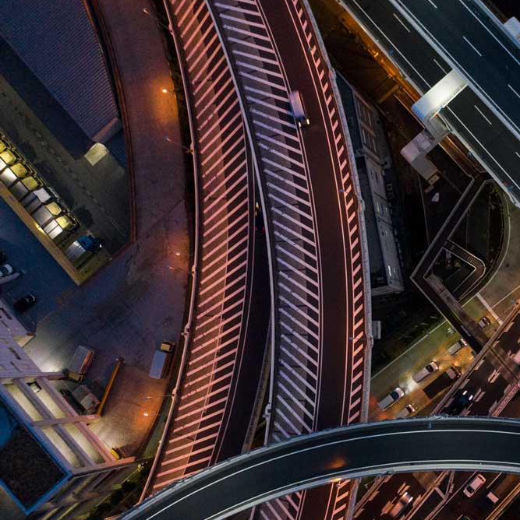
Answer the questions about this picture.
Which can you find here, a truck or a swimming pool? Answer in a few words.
truck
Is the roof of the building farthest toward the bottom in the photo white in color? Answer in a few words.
No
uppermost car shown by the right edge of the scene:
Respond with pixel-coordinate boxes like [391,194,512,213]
[478,312,497,330]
